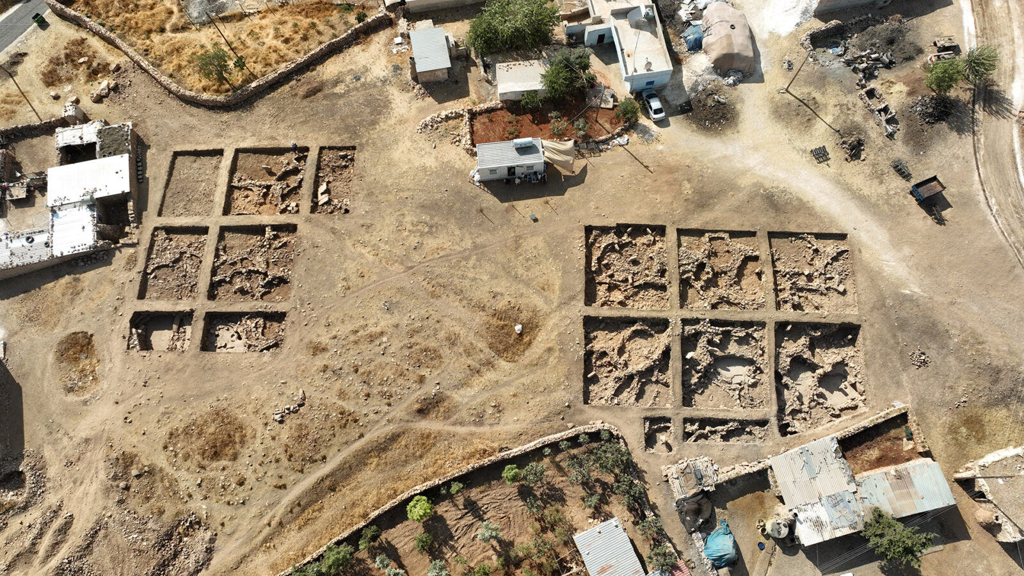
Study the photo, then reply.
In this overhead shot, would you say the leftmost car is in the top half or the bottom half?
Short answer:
top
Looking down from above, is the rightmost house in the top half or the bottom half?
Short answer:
bottom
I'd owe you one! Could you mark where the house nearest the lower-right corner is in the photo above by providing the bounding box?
[963,439,1024,548]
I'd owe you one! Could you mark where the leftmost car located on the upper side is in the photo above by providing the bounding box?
[640,86,668,120]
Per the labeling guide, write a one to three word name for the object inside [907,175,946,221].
trailer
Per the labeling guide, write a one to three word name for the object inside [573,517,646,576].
shed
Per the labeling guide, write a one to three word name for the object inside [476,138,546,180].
building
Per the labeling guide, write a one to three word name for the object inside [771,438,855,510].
barn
